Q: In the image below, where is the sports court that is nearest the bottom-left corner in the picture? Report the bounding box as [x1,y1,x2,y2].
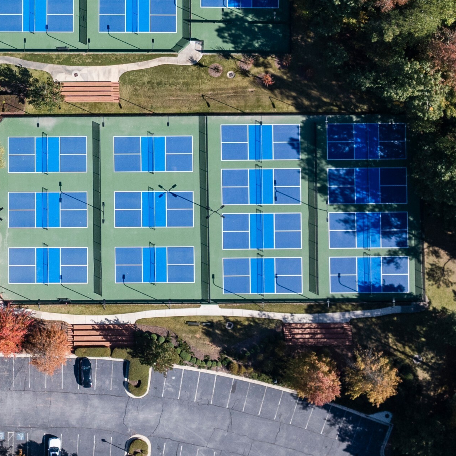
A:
[9,245,88,286]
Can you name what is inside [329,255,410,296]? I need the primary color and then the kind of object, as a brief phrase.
blue sports court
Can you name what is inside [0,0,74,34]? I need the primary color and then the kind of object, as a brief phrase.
blue sports court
